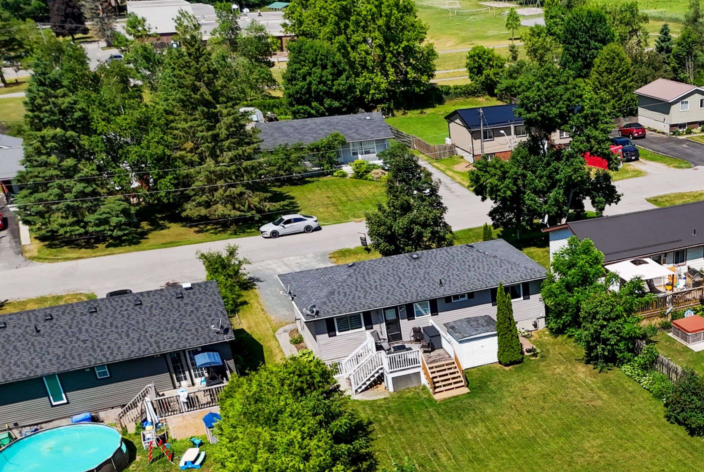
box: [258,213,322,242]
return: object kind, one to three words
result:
car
